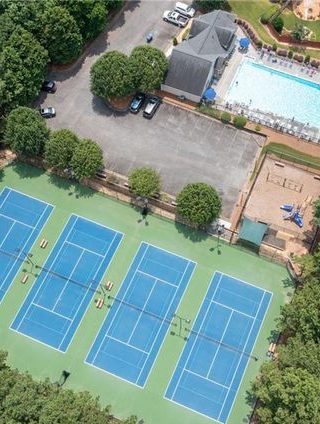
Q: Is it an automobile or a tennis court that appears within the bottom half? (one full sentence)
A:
Visible within the bottom half is a tennis court.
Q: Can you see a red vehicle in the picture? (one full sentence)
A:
No, this view has no red vehicle in it.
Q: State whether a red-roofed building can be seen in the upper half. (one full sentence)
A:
No, looking in the upper half, there is no red-roofed building.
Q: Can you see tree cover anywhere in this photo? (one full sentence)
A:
Yes, tree cover shows up in the scene.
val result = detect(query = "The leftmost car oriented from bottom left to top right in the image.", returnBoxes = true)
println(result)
[128,91,144,112]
